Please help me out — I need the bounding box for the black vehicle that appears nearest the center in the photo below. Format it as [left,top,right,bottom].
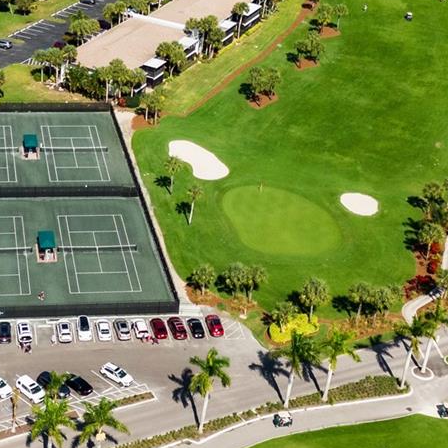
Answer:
[186,317,205,341]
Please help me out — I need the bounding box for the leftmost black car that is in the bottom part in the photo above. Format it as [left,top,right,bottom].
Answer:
[0,320,12,345]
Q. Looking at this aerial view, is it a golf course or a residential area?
golf course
